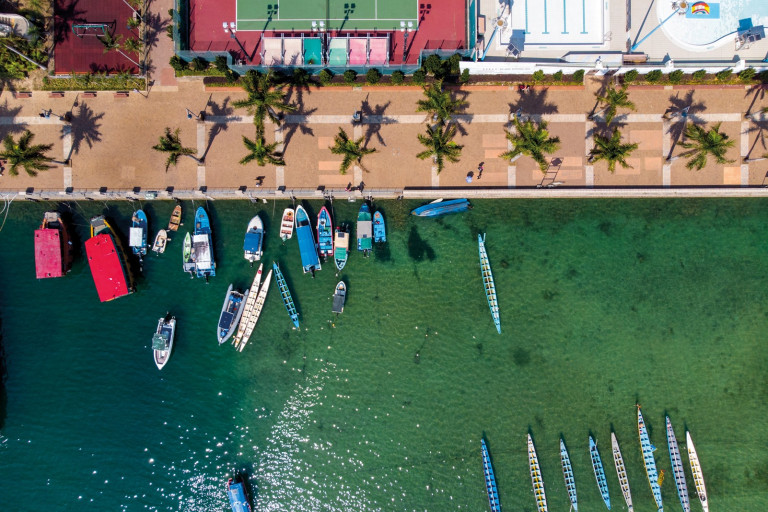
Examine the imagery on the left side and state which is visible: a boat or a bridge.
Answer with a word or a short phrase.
boat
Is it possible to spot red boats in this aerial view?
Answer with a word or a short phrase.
Yes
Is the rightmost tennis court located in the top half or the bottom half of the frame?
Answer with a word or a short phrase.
top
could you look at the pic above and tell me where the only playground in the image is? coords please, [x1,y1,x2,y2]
[49,0,145,77]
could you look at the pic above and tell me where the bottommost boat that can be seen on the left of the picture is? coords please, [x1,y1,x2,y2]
[228,472,252,512]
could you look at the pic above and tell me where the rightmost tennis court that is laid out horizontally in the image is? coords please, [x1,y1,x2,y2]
[180,0,469,68]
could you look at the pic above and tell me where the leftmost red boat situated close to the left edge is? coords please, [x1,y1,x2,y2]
[35,208,75,280]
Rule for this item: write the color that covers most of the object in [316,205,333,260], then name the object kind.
blue boat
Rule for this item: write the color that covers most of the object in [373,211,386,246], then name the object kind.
blue boat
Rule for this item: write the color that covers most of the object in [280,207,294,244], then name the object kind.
white boat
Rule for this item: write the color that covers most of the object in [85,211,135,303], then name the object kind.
red boat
